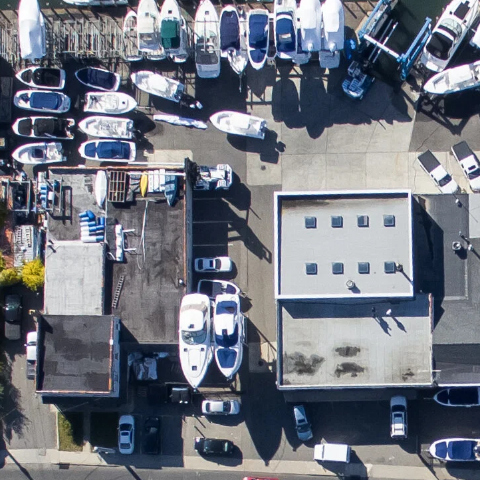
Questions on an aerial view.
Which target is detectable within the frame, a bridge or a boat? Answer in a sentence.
Looking from above, you can make out a boat.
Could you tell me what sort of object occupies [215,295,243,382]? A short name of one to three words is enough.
boat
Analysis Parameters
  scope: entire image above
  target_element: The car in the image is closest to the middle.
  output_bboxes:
[194,255,233,274]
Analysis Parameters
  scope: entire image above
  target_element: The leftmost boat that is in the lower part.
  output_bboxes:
[182,296,215,390]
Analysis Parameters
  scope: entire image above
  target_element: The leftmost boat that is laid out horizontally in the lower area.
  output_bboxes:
[198,279,239,299]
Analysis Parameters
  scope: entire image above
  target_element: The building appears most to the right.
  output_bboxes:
[273,190,480,391]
